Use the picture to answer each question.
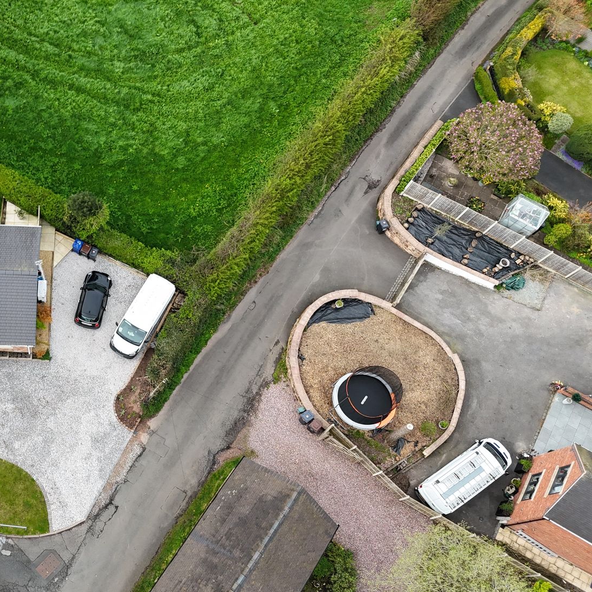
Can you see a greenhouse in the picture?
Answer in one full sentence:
Yes, the photo shows a greenhouse.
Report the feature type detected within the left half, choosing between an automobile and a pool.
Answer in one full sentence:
Looking within the left half, you will find an automobile.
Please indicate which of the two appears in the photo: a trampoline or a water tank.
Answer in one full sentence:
It is a trampoline that can be seen here.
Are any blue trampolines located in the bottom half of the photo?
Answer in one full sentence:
No, there is no blue trampoline in the bottom half of the photo.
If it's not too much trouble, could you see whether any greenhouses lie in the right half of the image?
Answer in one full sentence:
Yes, in the right half of the image there is a greenhouse.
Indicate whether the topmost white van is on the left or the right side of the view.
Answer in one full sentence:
The topmost white van sits on the left side.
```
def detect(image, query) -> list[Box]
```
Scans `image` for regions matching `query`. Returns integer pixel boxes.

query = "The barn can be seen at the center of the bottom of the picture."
[150,456,340,592]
